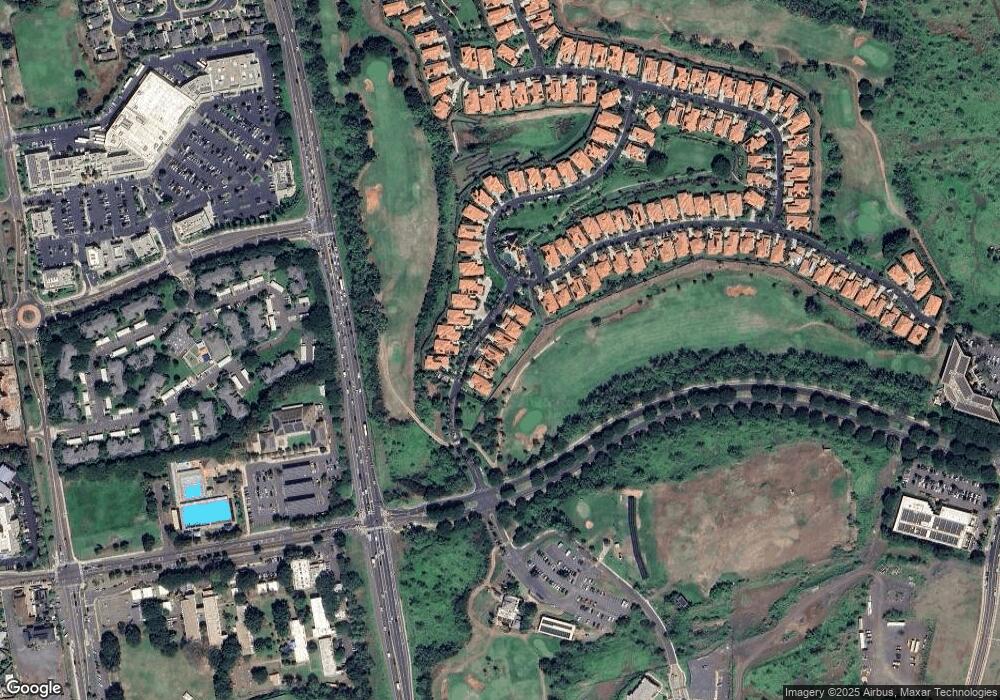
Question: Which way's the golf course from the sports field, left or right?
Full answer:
It is on the right side of the sports field that the golf course is positioned.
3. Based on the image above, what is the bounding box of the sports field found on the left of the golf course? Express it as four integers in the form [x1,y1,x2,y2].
[15,2,83,115]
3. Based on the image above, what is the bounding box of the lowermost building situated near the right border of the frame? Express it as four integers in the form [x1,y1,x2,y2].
[894,496,983,549]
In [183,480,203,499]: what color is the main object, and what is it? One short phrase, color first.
blue swimming pool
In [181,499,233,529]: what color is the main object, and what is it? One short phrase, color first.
blue swimming pool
